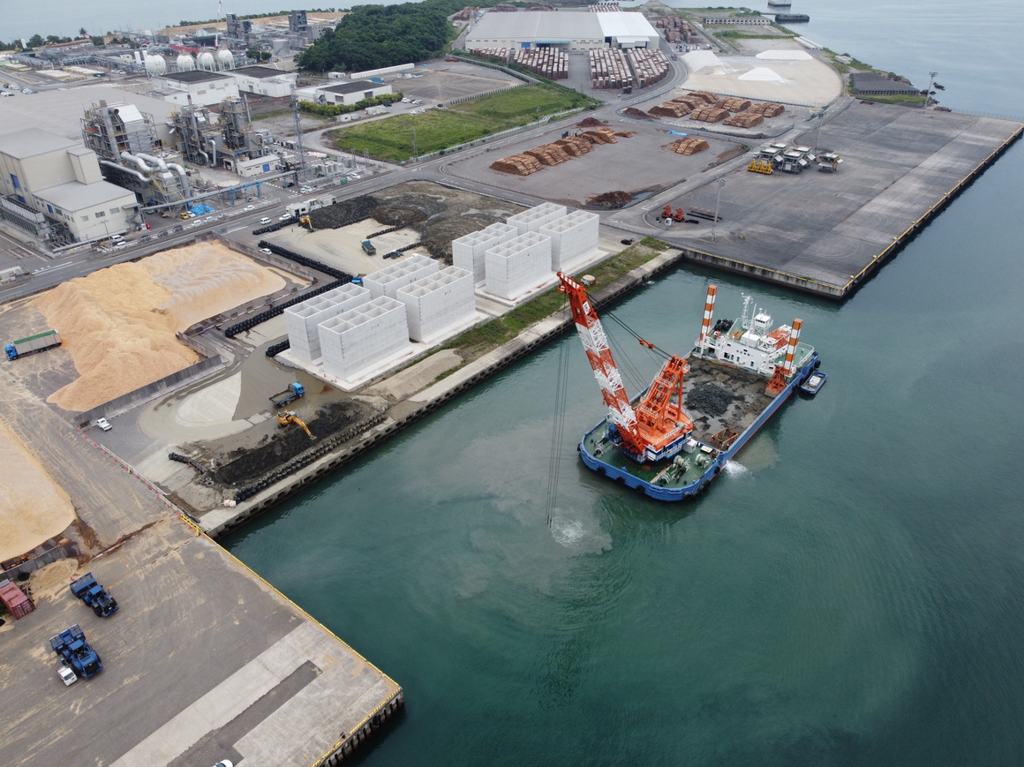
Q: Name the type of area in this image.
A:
port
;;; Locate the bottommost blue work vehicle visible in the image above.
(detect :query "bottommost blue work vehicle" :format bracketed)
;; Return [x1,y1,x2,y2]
[47,622,105,681]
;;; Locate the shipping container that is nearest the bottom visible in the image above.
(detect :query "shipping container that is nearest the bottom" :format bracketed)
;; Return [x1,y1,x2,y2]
[0,572,38,621]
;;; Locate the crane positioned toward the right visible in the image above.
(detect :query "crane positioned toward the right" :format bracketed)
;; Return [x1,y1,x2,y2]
[546,273,695,528]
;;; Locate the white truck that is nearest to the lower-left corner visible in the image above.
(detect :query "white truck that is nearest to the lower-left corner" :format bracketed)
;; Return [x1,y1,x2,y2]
[57,664,79,687]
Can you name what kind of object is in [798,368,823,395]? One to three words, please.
boat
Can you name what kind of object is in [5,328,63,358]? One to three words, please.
truck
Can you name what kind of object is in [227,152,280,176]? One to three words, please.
shed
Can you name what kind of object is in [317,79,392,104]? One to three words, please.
building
